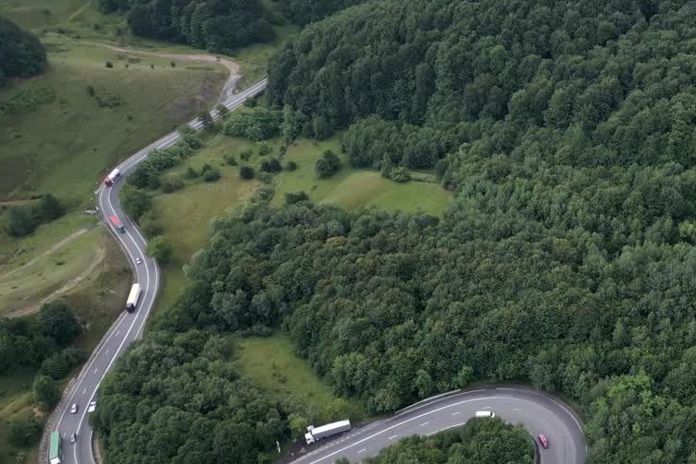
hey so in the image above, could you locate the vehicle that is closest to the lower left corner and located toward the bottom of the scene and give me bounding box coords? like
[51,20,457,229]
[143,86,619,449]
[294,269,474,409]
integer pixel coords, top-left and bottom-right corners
[49,429,64,464]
